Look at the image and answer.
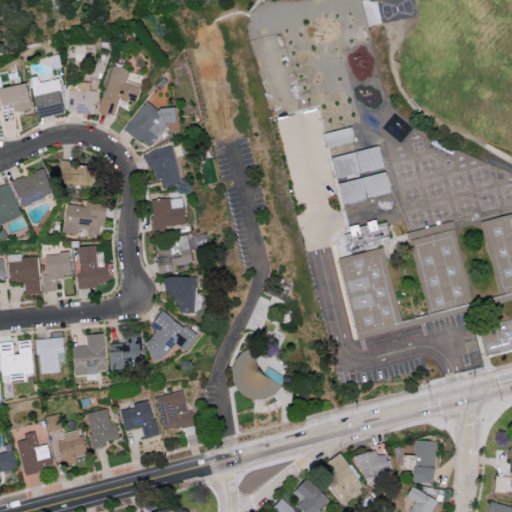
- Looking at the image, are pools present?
Yes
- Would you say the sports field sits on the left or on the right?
right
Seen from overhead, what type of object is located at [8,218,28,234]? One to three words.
swimming pool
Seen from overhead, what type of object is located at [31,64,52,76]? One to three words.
swimming pool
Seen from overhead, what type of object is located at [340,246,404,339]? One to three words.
building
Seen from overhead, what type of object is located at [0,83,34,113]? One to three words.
house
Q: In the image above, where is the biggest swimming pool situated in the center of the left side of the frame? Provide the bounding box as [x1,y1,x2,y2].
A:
[28,204,50,224]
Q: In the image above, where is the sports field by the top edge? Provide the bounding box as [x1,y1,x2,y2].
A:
[397,0,512,156]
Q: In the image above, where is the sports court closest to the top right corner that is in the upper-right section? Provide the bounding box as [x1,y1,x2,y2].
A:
[380,0,416,22]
